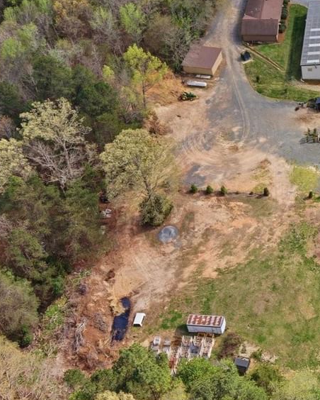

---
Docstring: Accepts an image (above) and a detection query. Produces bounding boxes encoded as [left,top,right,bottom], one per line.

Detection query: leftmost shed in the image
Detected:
[179,41,225,75]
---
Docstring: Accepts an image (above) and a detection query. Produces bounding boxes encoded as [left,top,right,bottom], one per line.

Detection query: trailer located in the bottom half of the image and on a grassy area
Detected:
[186,312,225,334]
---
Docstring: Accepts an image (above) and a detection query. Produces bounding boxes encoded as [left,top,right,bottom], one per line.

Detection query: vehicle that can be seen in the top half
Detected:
[174,91,193,103]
